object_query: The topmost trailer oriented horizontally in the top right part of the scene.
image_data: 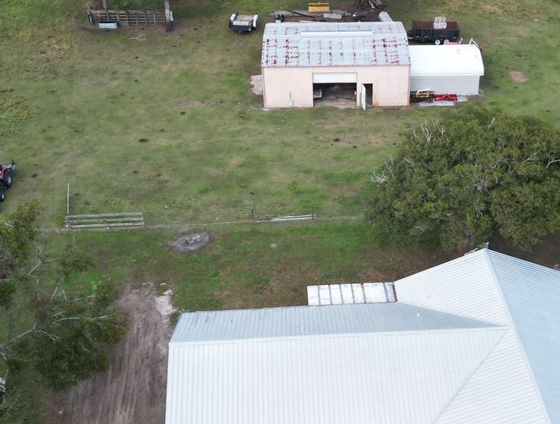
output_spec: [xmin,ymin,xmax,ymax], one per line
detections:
[407,21,459,45]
